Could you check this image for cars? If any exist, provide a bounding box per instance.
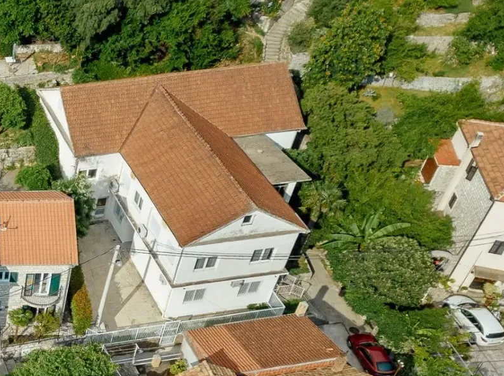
[448,302,504,350]
[342,334,407,376]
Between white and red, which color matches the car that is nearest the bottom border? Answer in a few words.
red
